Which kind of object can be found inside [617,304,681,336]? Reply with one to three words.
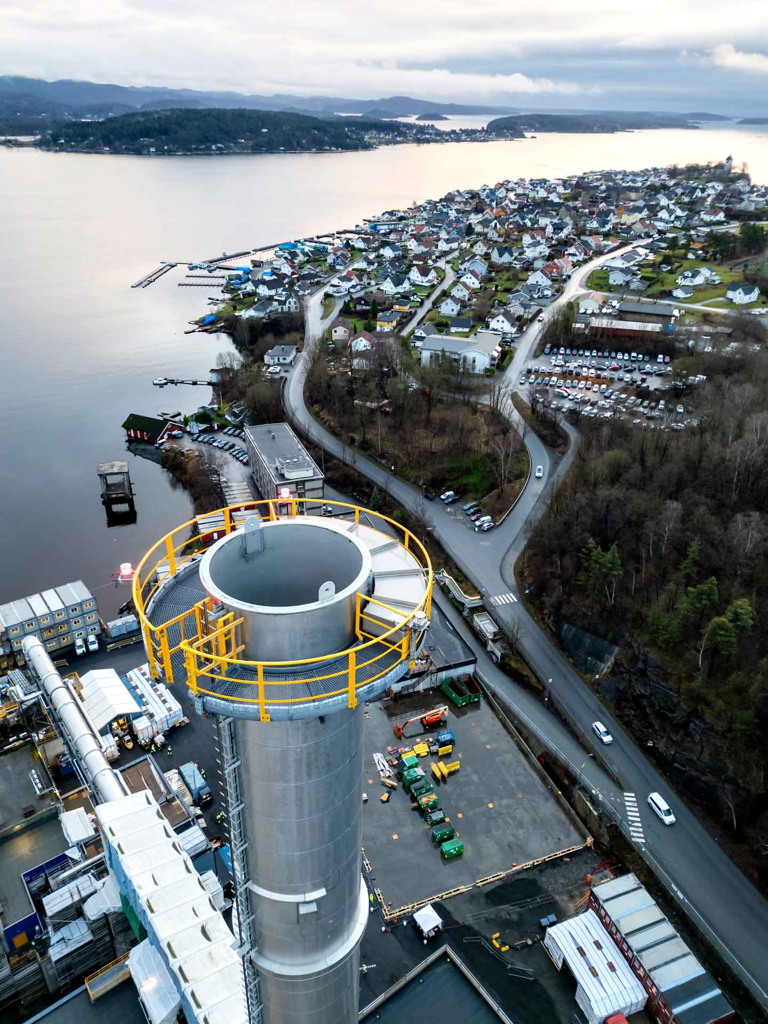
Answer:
shed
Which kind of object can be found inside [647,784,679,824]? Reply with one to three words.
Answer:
car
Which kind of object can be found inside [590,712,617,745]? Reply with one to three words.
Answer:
car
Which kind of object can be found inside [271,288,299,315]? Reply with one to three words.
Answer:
house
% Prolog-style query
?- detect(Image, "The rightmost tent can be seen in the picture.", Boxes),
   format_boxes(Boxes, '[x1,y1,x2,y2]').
[409,895,450,947]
